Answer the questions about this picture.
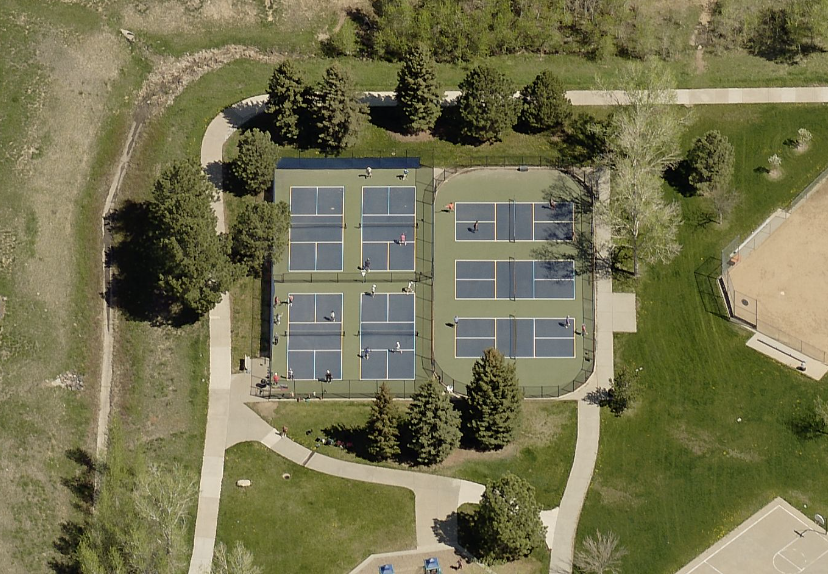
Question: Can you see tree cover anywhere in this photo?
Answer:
Yes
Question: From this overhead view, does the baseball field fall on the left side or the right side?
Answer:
right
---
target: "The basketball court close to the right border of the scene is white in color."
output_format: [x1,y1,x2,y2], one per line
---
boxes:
[673,497,828,574]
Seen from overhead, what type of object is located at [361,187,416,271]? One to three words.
sports court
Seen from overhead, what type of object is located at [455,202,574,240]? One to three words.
sports court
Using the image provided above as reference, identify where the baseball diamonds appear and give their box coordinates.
[729,181,828,365]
